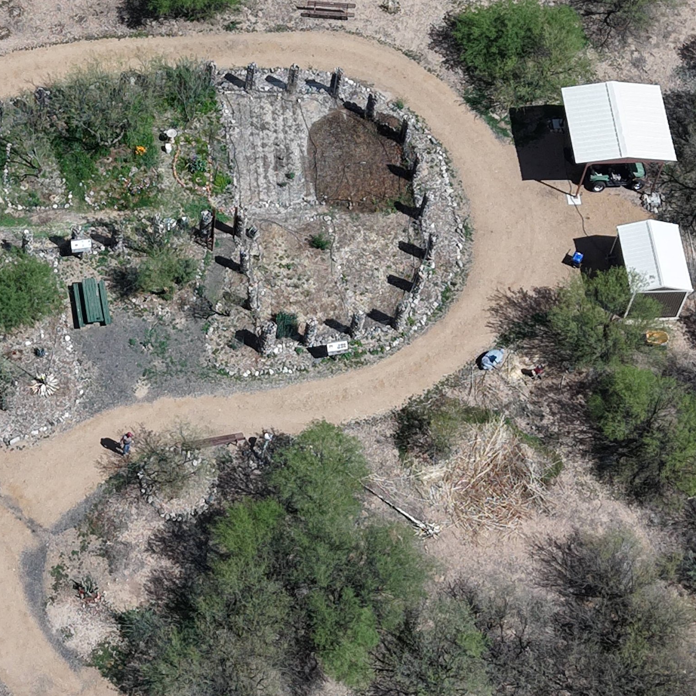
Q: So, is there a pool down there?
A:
No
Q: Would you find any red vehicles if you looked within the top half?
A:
No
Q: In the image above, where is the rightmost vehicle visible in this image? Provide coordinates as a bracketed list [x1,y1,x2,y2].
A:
[587,160,649,194]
